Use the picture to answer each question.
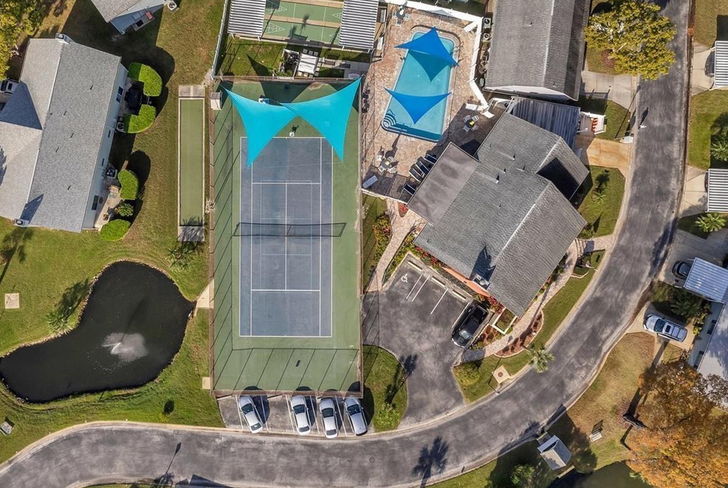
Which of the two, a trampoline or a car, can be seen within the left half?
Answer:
car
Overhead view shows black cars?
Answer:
Yes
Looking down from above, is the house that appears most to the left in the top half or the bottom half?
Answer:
top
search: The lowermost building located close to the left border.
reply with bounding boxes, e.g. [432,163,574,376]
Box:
[0,31,127,233]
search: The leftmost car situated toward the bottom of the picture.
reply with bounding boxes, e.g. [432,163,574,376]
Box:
[239,395,264,435]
